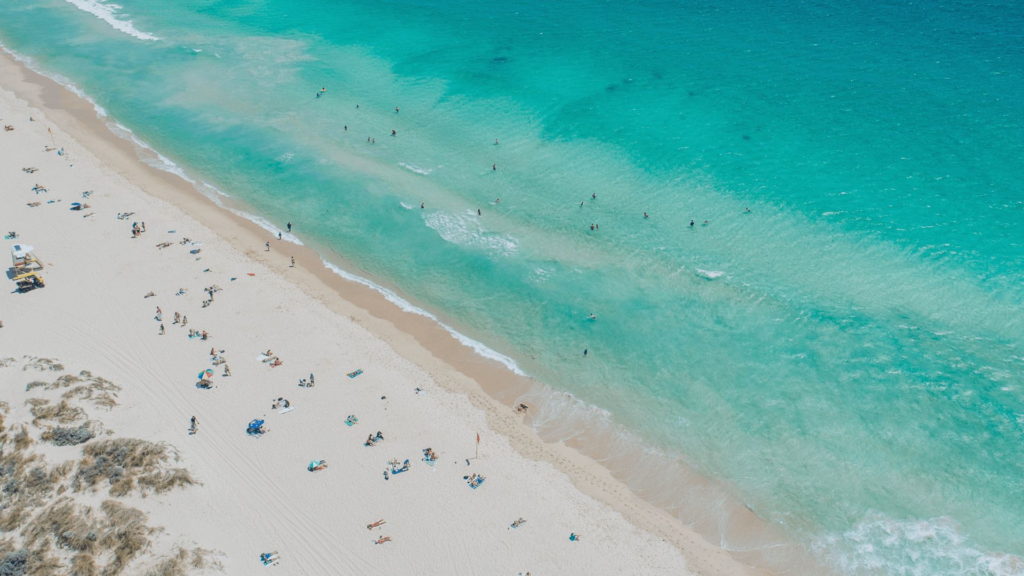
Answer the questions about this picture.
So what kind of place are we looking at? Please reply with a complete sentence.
What you see here is a beach.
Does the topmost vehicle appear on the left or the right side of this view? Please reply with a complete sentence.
The topmost vehicle sits on the left side.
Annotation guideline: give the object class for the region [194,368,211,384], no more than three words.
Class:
umbrella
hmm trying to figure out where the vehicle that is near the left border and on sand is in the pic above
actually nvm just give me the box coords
[8,275,45,297]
